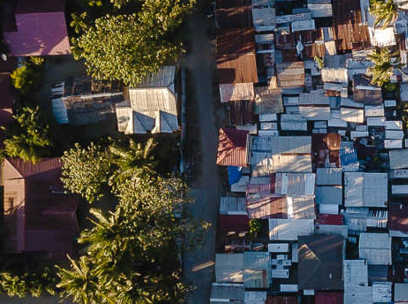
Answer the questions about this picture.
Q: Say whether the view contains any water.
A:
No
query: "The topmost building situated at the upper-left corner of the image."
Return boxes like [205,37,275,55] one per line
[5,0,80,59]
